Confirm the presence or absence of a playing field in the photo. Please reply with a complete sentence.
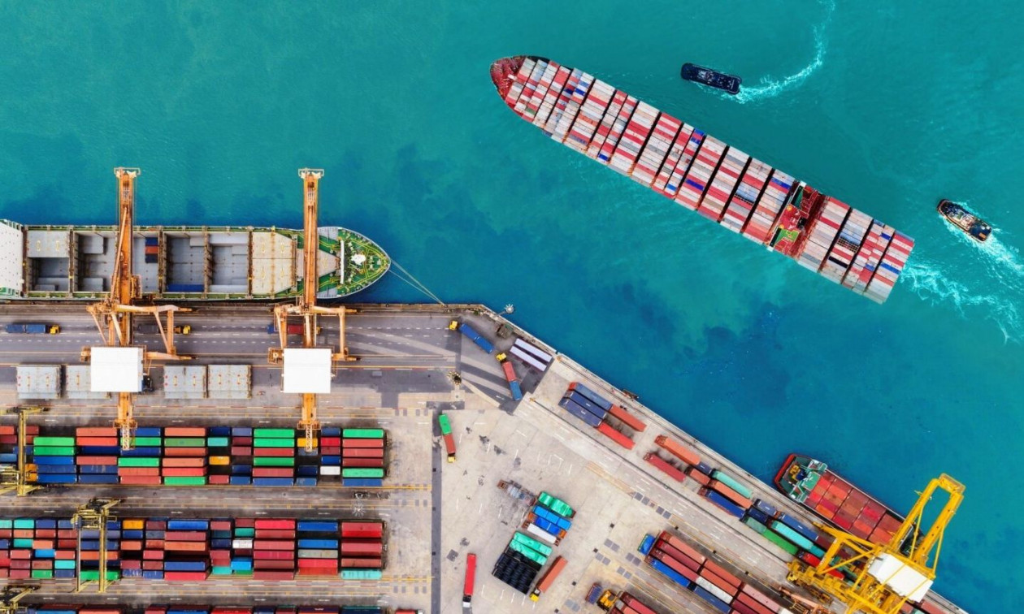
No, this view has no playing field in it.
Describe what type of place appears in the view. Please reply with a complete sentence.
The area seen from above is a port.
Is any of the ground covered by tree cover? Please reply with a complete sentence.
No, there's no tree cover in this view.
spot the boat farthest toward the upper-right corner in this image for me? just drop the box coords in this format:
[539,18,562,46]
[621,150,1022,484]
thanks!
[935,199,995,246]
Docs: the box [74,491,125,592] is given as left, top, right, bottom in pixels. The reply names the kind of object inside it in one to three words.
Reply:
container crane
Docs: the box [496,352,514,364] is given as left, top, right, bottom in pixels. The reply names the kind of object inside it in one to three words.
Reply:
vehicle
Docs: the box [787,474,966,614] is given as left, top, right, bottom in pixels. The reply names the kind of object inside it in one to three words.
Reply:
container crane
